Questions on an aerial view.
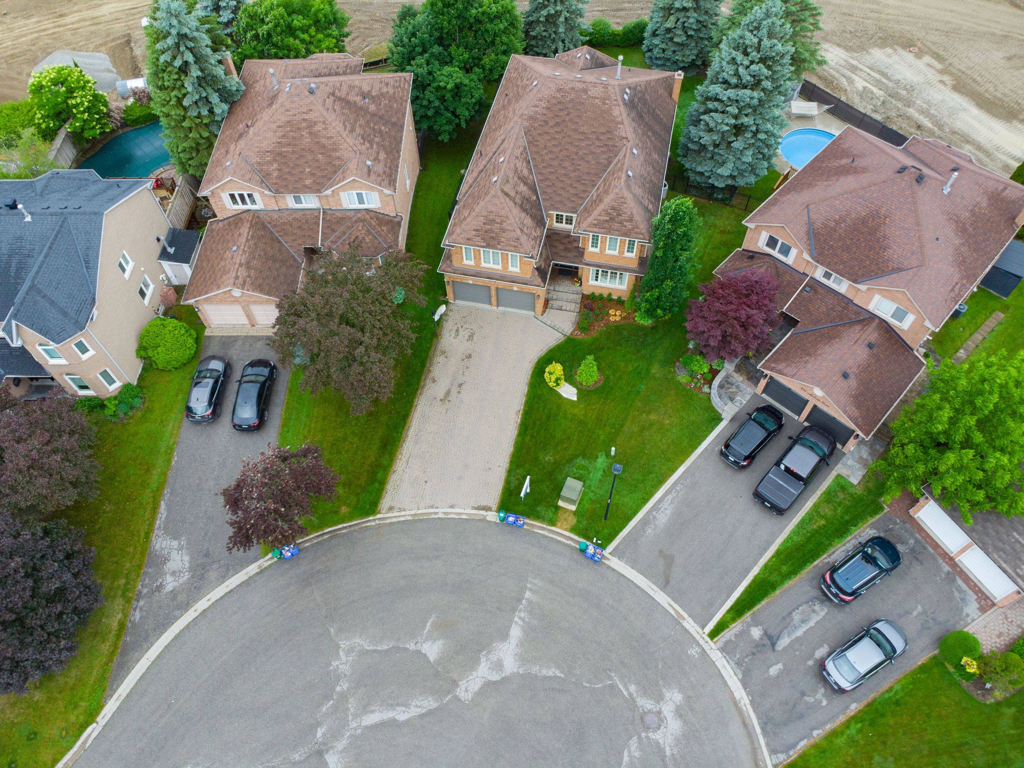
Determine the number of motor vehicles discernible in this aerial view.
6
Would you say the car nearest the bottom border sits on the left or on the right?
right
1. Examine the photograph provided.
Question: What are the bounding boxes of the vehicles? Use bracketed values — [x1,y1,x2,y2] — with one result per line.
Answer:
[719,404,787,477]
[750,427,835,523]
[813,623,913,700]
[228,362,275,434]
[181,357,231,425]
[817,536,909,610]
